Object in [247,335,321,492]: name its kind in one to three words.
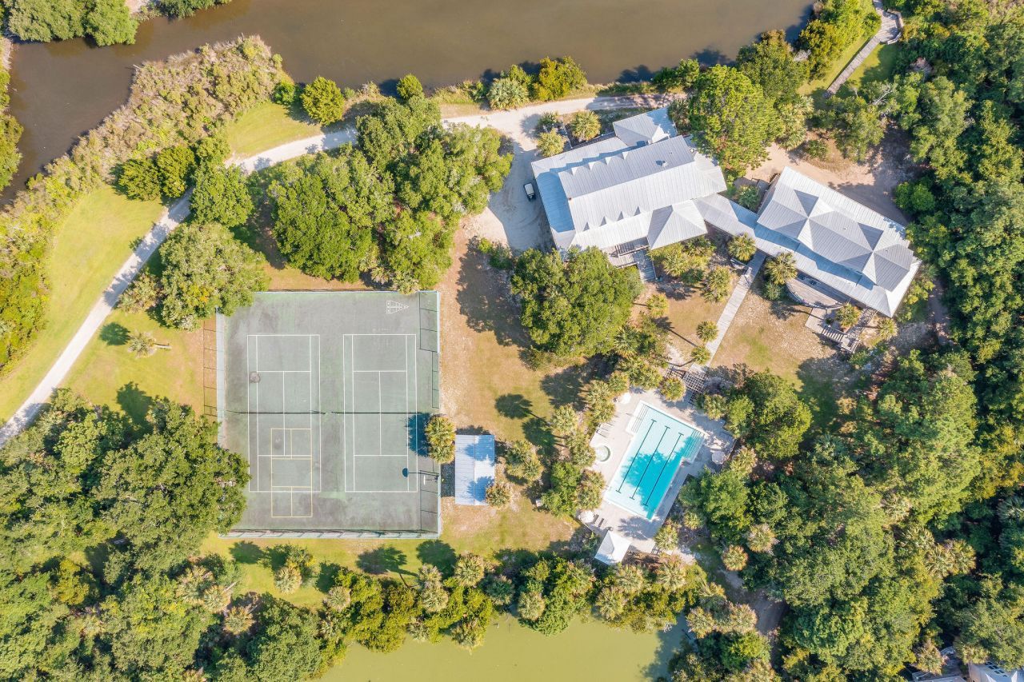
tennis court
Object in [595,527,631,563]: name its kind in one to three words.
building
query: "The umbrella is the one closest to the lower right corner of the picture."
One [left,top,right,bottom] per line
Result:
[709,449,725,465]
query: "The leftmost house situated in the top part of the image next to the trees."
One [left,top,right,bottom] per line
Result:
[531,107,726,259]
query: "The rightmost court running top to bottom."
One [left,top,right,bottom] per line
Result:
[343,334,418,492]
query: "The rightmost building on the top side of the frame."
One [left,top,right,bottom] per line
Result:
[738,166,927,316]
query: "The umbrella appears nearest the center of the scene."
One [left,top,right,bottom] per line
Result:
[619,392,633,405]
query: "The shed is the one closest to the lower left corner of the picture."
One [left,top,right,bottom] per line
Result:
[455,435,495,506]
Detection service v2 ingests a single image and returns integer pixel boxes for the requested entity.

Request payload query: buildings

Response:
[941,648,1024,682]
[595,527,631,563]
[738,166,927,316]
[455,435,495,506]
[531,107,726,259]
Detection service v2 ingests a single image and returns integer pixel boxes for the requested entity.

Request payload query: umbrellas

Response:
[709,449,725,465]
[619,392,633,405]
[579,508,597,525]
